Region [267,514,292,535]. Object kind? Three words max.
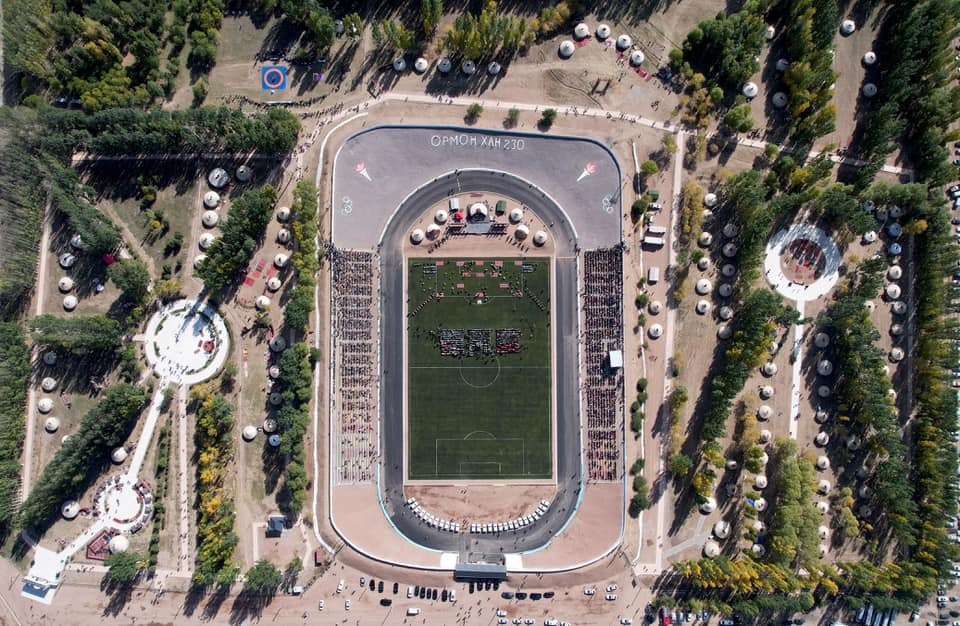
house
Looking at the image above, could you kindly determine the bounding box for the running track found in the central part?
[381,171,578,553]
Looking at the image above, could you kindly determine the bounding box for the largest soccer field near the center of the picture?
[405,254,556,485]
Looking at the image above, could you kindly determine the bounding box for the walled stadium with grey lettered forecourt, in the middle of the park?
[330,125,626,574]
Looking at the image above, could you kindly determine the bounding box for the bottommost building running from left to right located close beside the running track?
[456,560,505,579]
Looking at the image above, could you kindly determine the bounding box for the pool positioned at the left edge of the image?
[23,584,46,598]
